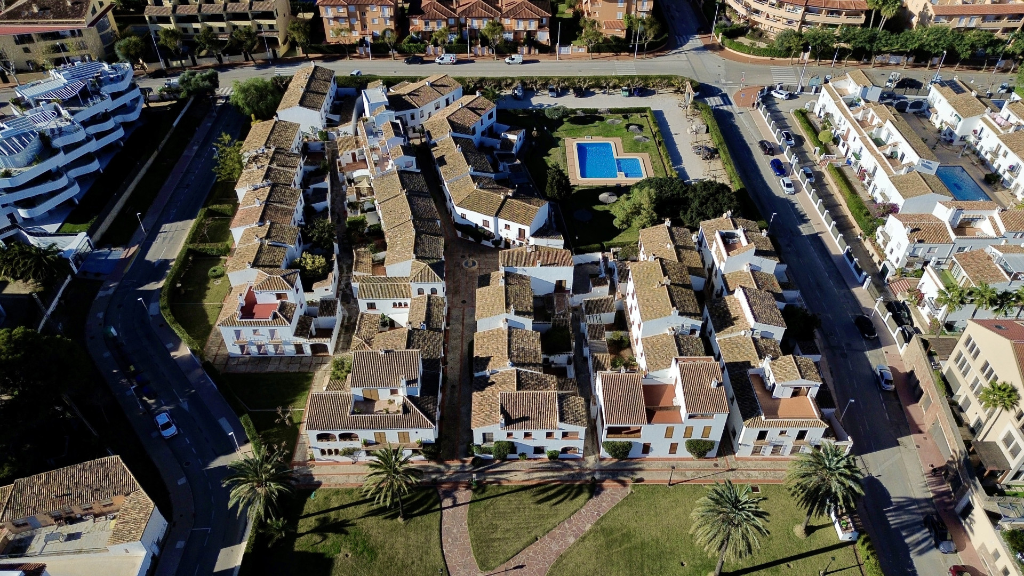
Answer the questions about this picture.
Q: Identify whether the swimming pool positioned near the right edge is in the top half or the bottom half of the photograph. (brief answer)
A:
top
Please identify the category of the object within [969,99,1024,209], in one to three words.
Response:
house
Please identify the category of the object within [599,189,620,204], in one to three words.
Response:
umbrella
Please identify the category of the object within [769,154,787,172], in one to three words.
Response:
car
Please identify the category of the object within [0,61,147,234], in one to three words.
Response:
building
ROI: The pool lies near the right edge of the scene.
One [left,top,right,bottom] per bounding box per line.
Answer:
[939,165,990,199]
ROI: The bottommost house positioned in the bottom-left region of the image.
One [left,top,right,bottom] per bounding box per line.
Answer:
[0,454,174,576]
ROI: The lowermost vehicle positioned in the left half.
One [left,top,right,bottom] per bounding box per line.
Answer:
[149,406,178,437]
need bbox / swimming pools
[939,165,990,199]
[576,140,643,179]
